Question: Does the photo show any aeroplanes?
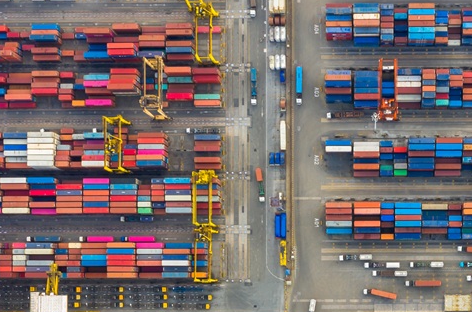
No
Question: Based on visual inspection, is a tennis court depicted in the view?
No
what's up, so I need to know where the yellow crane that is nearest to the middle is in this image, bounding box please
[190,168,221,227]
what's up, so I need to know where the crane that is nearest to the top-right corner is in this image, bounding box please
[374,56,402,120]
